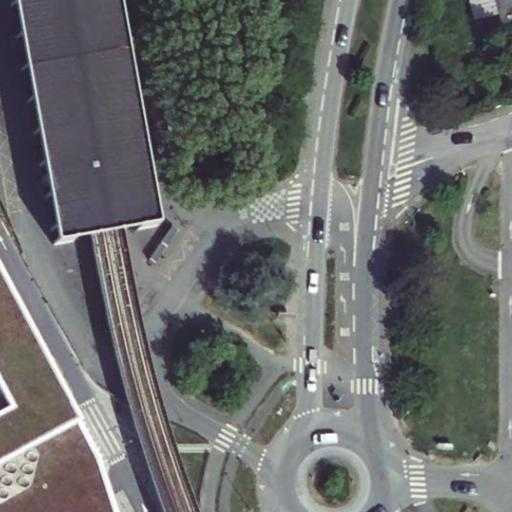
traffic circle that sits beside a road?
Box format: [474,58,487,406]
[260,409,408,512]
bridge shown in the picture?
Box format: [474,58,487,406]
[90,227,198,512]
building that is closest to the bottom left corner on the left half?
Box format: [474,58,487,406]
[0,256,118,512]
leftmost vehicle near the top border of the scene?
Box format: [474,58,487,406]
[336,25,348,47]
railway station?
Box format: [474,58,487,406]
[16,0,163,246]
